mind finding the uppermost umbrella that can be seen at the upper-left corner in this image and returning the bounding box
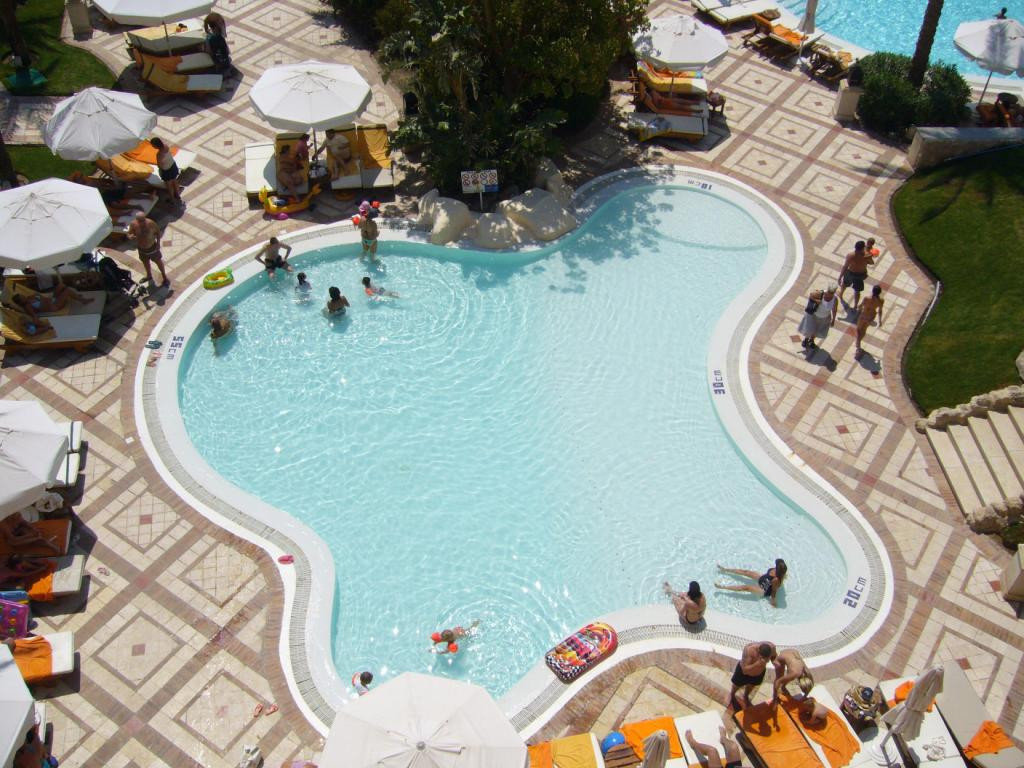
[107,0,219,59]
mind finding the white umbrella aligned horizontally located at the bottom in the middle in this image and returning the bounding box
[317,666,527,768]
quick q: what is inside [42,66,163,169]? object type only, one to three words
umbrella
